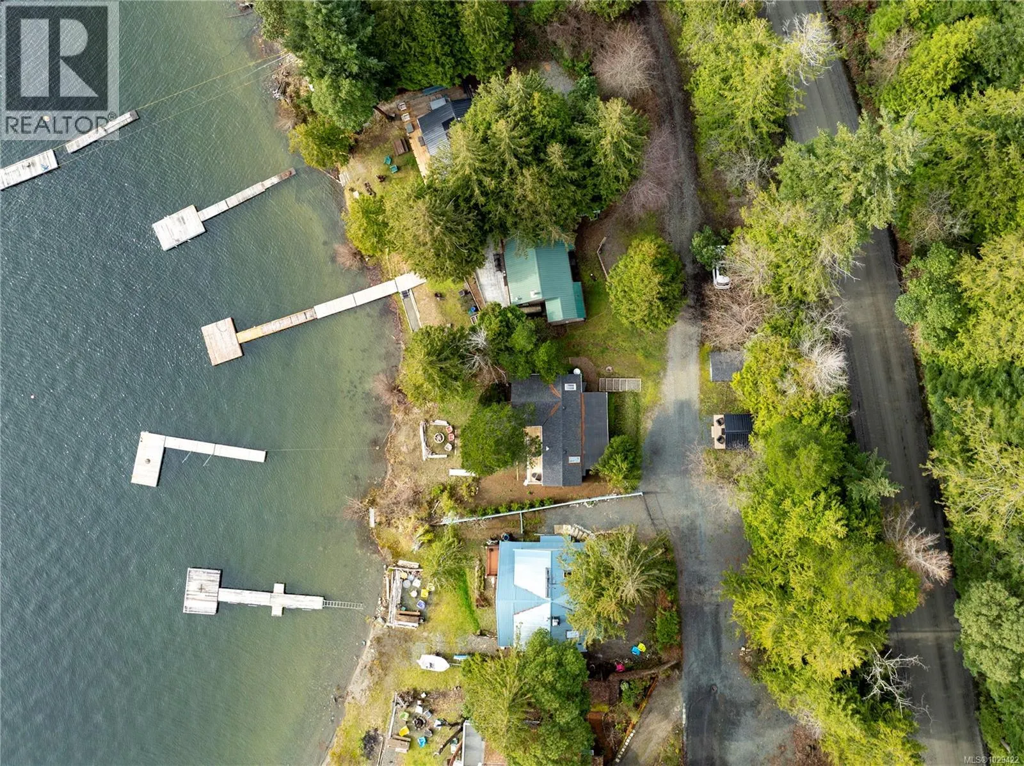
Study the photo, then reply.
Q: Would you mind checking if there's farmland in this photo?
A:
No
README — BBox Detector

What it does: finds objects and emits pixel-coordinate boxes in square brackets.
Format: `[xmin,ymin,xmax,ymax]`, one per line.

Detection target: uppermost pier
[66,110,140,153]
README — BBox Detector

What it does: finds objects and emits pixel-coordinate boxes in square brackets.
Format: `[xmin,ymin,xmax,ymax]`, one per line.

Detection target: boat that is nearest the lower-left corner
[414,655,459,674]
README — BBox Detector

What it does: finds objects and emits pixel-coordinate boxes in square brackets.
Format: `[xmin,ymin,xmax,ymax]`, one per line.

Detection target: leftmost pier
[0,149,59,190]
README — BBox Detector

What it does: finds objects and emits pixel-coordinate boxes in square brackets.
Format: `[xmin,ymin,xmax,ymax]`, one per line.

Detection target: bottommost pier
[184,568,324,617]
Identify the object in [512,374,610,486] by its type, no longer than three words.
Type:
house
